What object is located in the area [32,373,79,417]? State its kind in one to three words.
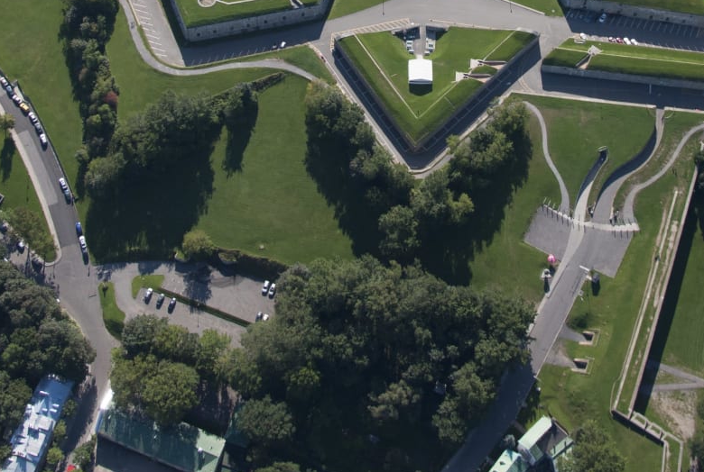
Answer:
house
